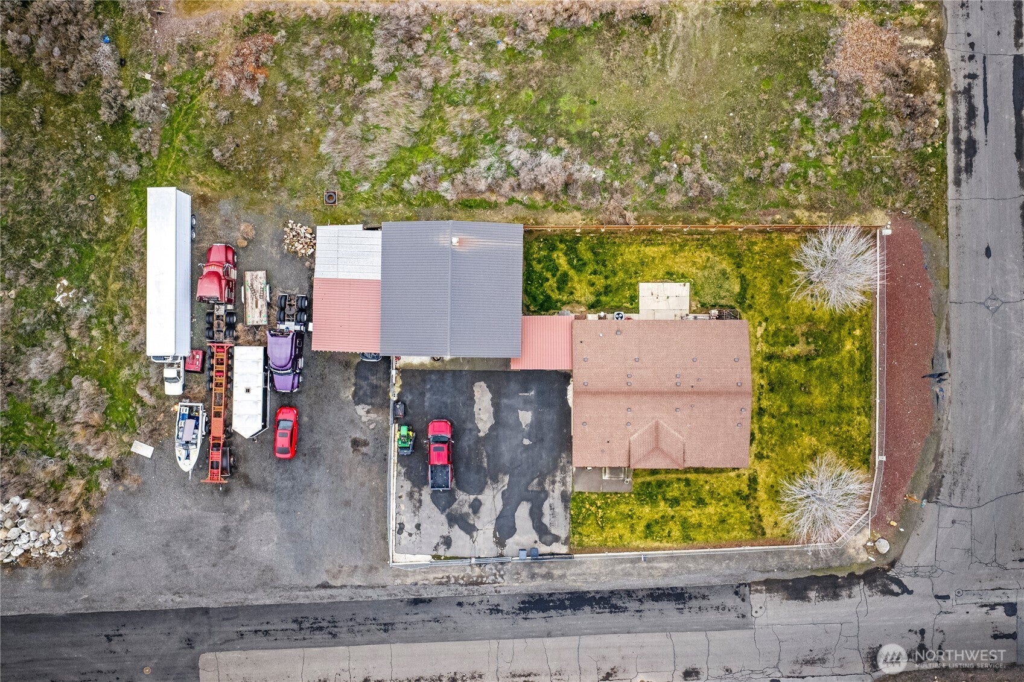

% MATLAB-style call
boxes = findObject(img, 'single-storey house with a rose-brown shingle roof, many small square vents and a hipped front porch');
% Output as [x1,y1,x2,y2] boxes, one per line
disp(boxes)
[571,319,753,470]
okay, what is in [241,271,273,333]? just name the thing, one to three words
trailer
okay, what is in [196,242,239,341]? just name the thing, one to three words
truck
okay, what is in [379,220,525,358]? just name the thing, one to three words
shed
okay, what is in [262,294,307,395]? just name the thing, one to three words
truck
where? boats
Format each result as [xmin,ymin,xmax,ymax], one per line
[175,396,203,472]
